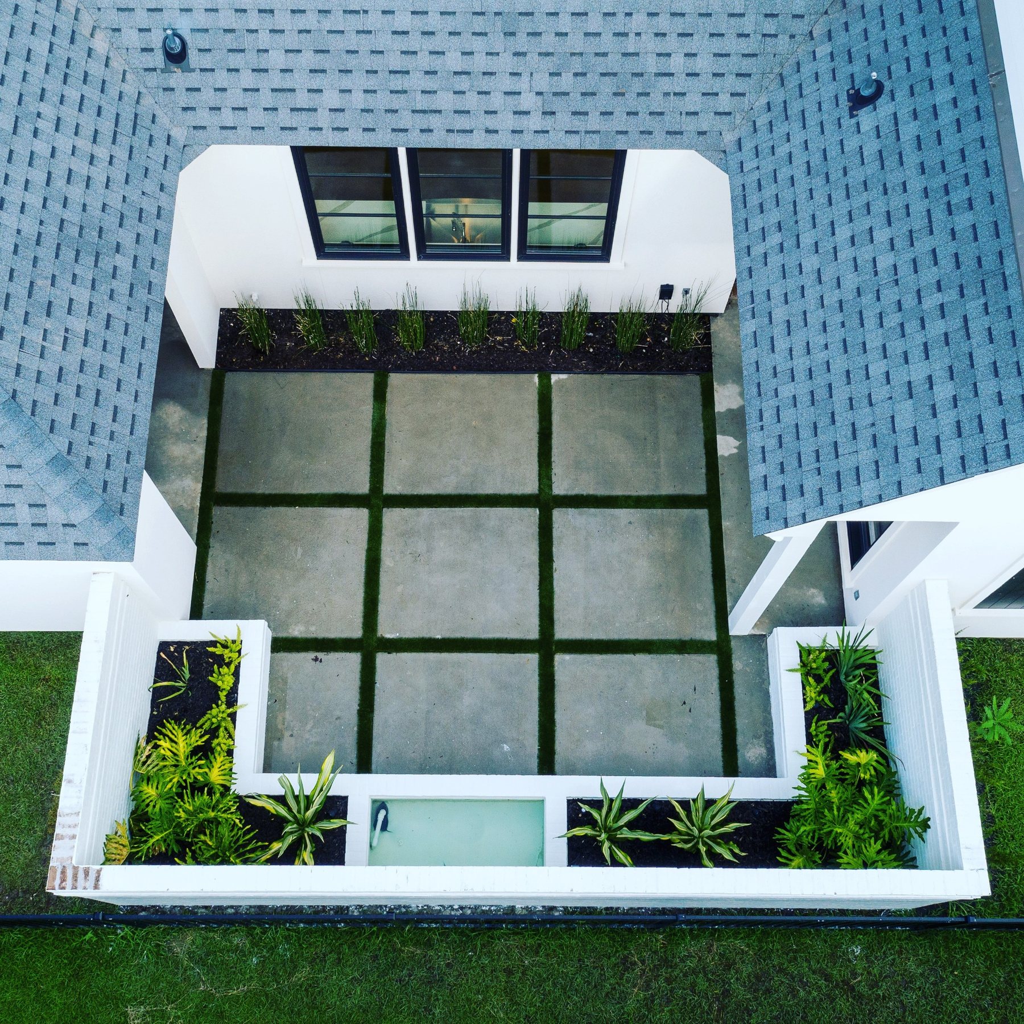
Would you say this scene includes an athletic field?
No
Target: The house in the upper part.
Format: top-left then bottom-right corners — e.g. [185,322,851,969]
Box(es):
[0,0,1024,637]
